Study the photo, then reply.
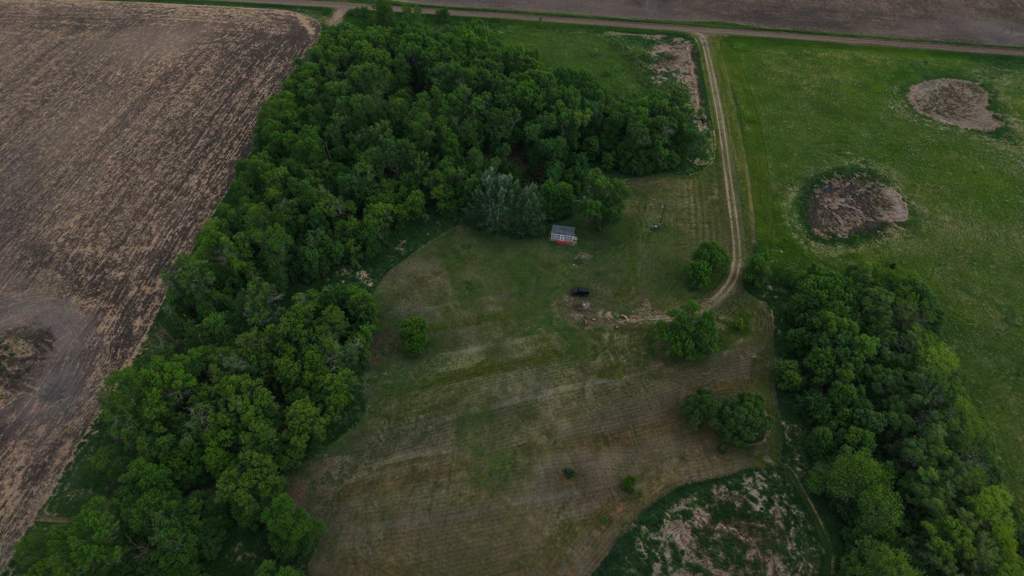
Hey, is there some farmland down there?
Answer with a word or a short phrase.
Yes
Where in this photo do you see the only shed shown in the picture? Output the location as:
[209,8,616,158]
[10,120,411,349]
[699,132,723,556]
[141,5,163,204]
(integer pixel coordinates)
[551,225,575,242]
